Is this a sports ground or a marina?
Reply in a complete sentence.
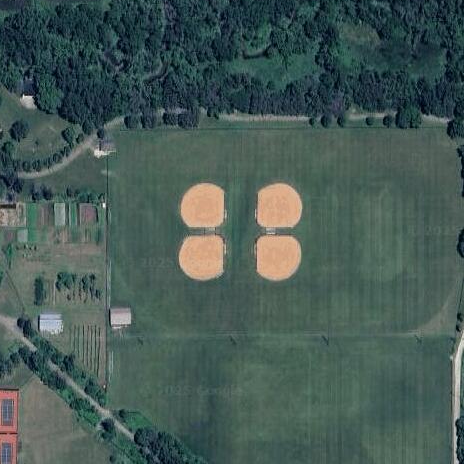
The picture captures a sports ground.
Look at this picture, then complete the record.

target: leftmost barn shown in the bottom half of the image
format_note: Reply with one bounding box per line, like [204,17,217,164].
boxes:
[40,315,63,331]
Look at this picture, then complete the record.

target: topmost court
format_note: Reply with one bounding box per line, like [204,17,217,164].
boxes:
[0,389,18,432]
